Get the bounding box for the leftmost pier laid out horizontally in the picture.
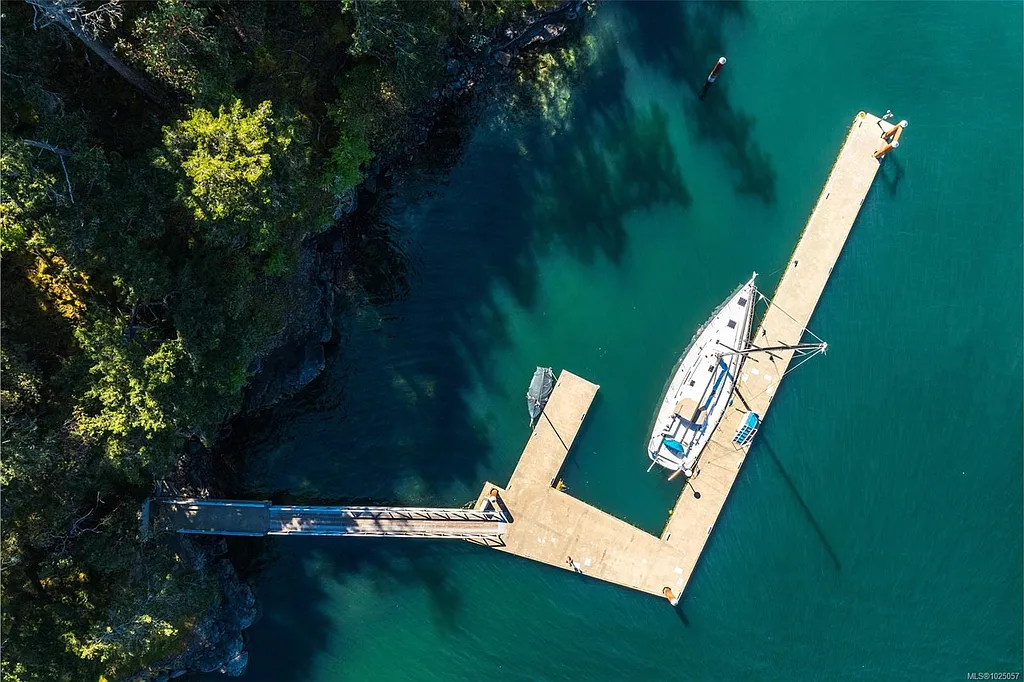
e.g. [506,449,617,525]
[149,494,284,538]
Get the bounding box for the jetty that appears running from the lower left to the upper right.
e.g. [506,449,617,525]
[470,112,894,603]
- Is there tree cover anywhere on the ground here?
Yes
